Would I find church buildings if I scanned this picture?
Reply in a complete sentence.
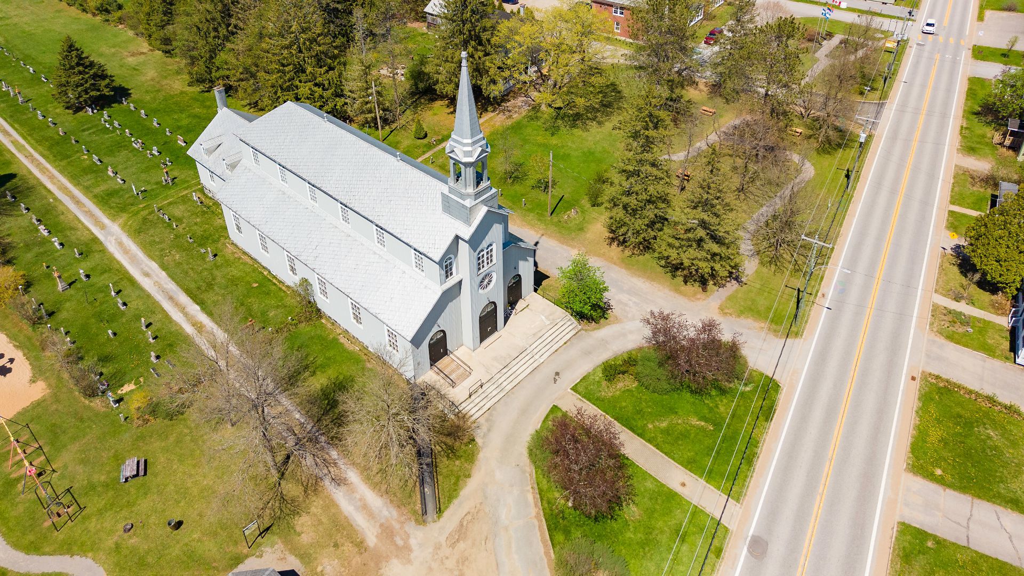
Yes, the frame does contain a church building.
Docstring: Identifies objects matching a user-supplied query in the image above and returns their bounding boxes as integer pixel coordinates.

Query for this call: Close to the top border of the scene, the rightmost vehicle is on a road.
[921,17,936,34]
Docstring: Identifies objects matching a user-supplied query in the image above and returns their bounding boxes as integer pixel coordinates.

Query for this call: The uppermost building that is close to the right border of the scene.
[995,105,1024,161]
